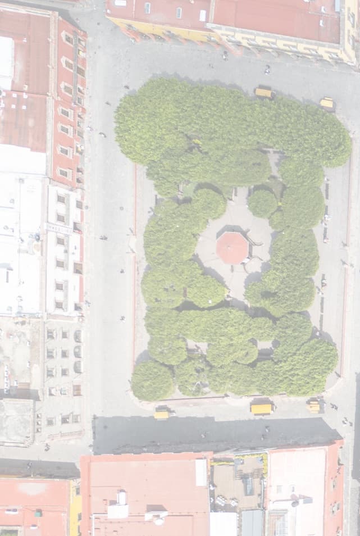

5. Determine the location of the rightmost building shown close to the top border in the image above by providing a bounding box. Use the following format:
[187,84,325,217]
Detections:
[207,0,360,71]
